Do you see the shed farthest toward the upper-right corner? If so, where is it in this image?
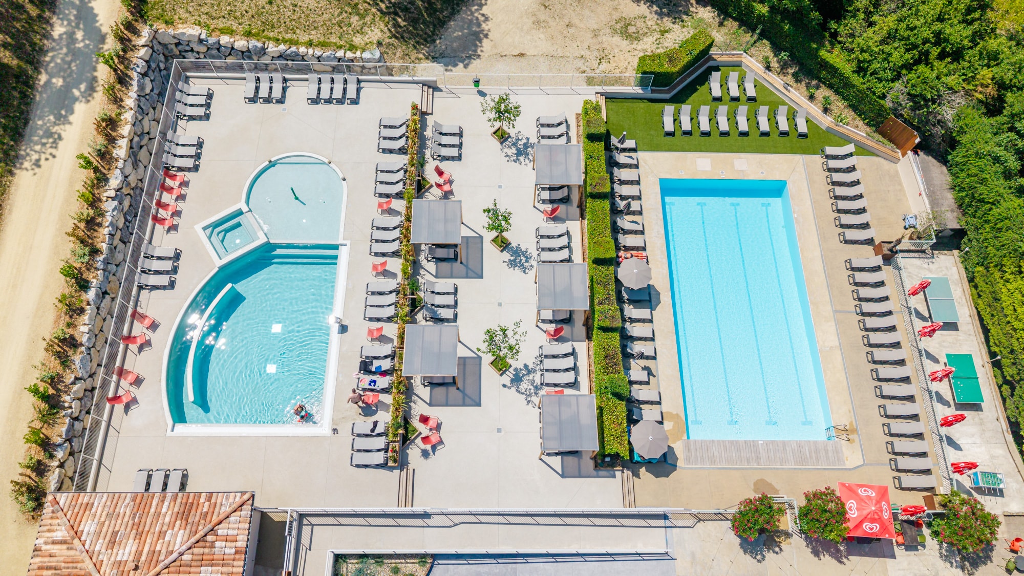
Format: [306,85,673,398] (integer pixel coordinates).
[874,117,918,156]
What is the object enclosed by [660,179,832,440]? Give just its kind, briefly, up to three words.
swimming pool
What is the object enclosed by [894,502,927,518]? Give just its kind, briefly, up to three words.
umbrella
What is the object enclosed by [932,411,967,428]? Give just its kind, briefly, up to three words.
umbrella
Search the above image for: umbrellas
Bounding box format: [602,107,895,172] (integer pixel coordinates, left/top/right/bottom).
[911,322,942,341]
[620,199,633,220]
[920,366,955,383]
[932,411,967,428]
[631,348,646,365]
[894,502,927,518]
[942,458,979,474]
[837,482,896,539]
[627,419,670,463]
[616,260,651,293]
